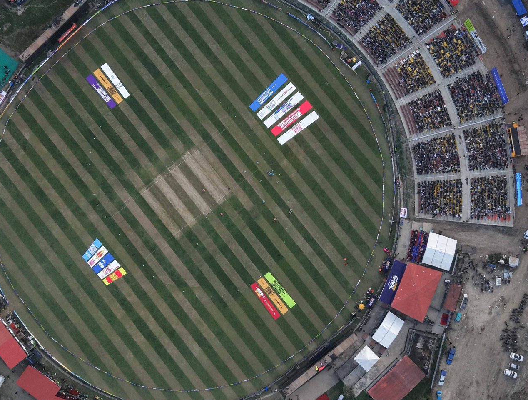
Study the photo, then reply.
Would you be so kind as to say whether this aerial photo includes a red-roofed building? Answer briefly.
Yes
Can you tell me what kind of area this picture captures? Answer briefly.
sports ground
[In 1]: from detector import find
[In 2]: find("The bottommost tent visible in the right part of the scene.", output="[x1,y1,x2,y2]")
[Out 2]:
[353,345,379,372]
